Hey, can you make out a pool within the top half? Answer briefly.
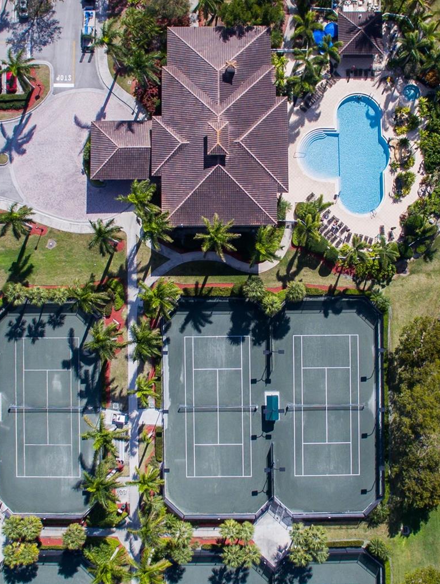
Yes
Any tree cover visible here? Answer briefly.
Yes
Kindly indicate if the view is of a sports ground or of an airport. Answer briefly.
sports ground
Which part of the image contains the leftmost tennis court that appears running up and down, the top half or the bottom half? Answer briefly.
bottom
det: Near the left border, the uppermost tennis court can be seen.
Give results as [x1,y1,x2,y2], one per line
[0,302,99,514]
